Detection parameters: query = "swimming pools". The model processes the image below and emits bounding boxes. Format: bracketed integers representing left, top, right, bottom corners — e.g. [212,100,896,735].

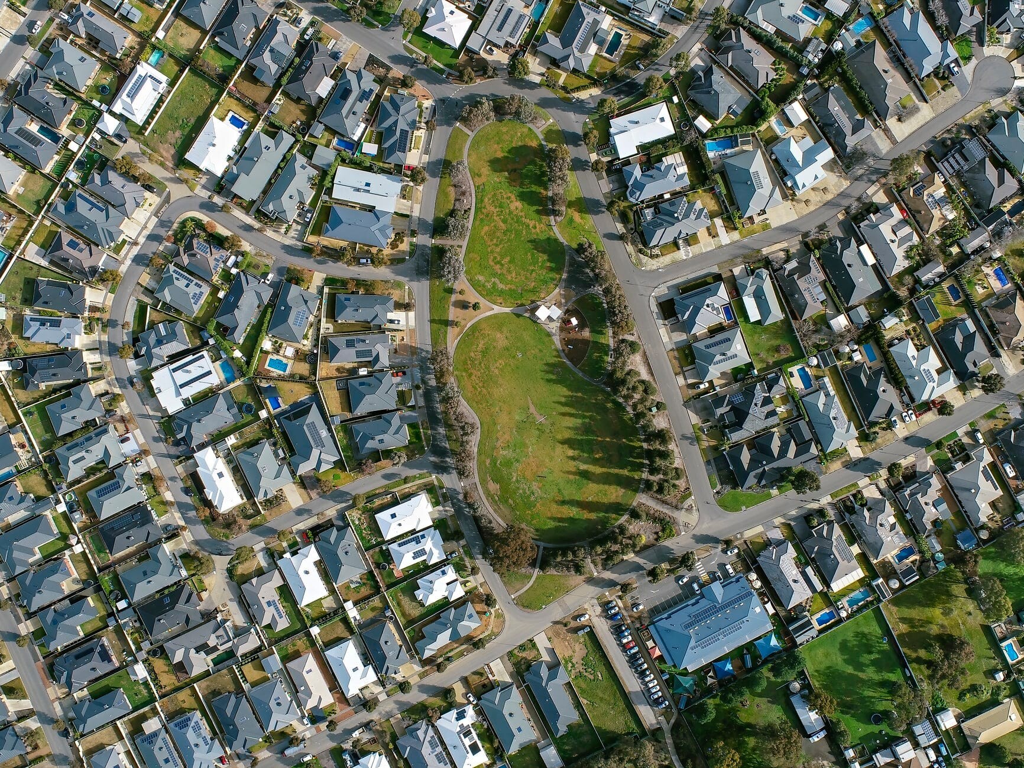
[850,14,875,36]
[267,396,280,411]
[226,116,246,131]
[845,587,872,610]
[603,30,626,59]
[210,650,235,669]
[148,48,164,68]
[333,137,356,153]
[0,469,15,483]
[861,342,874,359]
[266,356,290,375]
[722,305,735,323]
[0,248,9,265]
[529,0,548,23]
[947,283,963,302]
[218,359,239,386]
[893,544,918,565]
[1003,641,1017,657]
[796,366,814,391]
[992,265,1010,288]
[814,609,838,629]
[772,117,787,135]
[35,123,63,145]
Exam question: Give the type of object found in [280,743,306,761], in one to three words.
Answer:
vehicle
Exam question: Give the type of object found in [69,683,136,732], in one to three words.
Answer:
house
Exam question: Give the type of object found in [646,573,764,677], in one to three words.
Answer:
building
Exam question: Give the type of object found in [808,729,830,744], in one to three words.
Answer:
camper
